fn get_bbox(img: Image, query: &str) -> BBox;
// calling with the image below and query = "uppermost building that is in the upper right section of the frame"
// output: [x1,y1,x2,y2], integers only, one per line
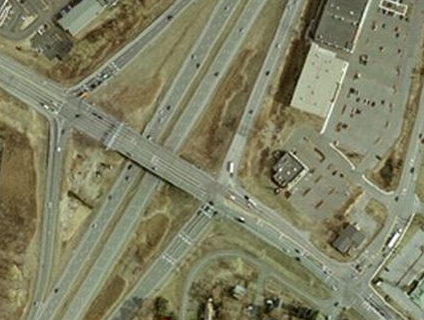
[313,0,372,53]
